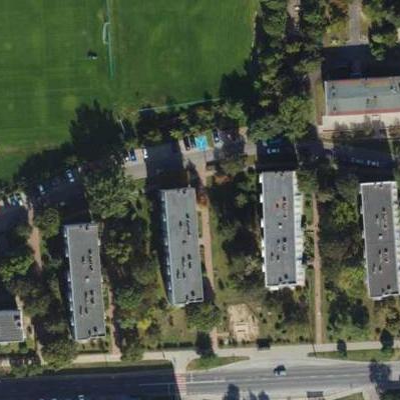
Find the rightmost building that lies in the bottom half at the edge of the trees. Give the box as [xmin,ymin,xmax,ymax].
[358,183,400,300]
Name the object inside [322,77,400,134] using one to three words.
building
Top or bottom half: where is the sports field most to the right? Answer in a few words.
top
